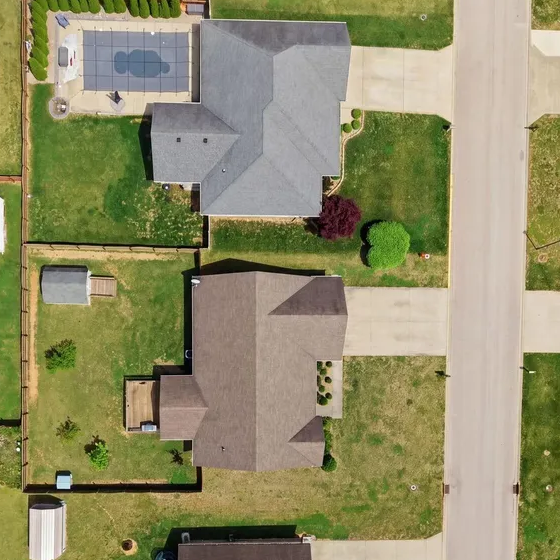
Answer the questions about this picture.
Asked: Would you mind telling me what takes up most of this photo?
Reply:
grass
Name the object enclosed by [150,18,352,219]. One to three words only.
house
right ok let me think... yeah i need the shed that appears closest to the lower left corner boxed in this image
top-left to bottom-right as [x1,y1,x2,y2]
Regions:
[30,506,66,560]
